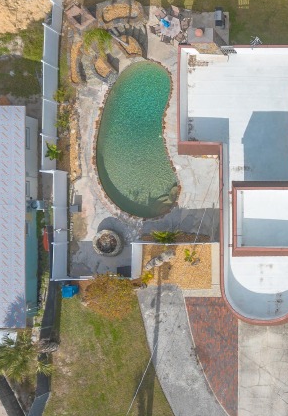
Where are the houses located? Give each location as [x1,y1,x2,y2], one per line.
[0,106,37,328]
[179,25,288,322]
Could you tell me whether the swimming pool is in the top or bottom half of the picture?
top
